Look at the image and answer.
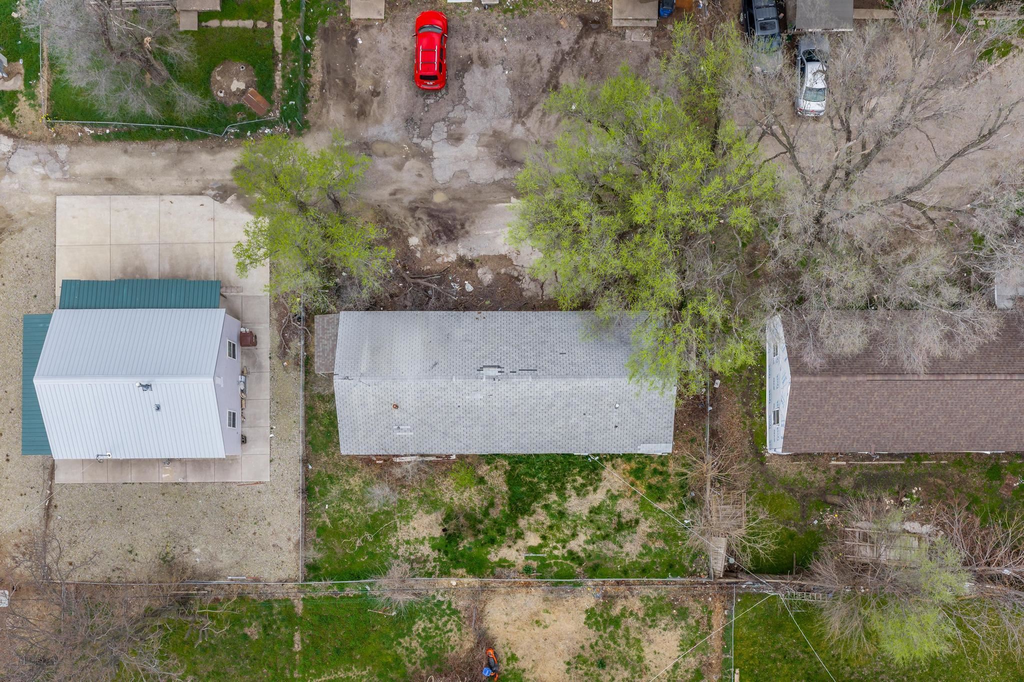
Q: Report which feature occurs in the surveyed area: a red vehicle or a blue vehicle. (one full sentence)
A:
The image shows a red vehicle.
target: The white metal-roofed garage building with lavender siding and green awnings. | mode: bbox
[23,279,242,465]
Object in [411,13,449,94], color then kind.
red car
